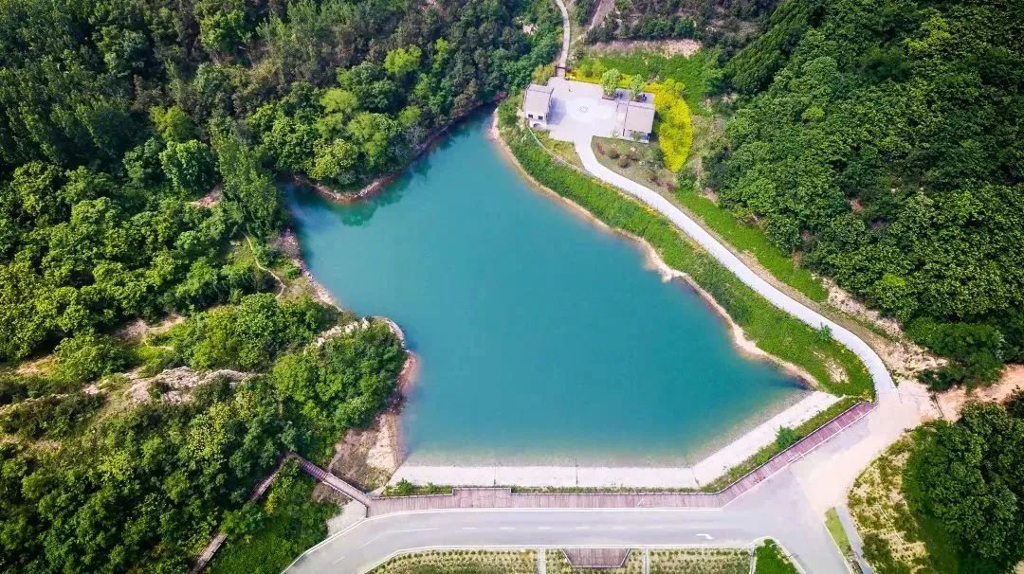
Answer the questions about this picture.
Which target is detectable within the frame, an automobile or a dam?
dam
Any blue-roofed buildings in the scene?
No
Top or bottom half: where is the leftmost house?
top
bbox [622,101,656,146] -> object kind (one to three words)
building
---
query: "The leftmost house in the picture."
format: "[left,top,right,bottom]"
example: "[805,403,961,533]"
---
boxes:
[523,85,554,132]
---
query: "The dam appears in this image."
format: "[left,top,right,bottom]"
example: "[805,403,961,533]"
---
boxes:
[372,392,844,487]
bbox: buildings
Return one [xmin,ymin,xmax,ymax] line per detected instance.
[622,101,656,146]
[523,85,554,132]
